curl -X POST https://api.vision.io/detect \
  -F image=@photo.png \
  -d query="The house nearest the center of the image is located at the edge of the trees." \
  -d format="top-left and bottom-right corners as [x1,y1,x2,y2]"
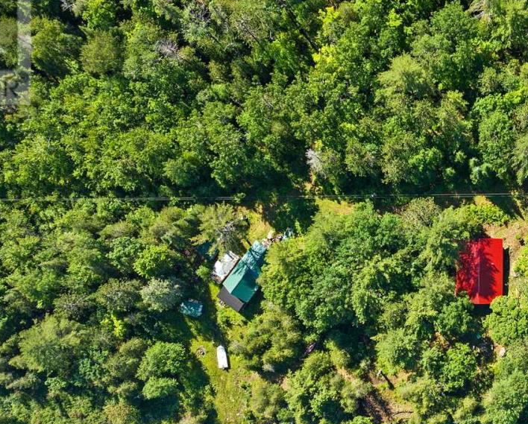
[216,234,277,312]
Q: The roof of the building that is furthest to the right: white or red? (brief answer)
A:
red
